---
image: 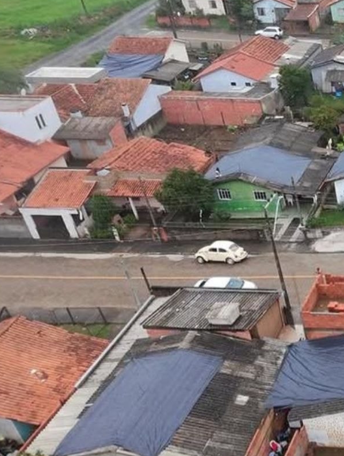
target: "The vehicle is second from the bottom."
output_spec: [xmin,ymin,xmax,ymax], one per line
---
[191,243,249,266]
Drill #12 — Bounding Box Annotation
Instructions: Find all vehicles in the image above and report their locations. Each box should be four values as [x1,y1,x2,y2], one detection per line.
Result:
[191,243,249,266]
[253,24,284,38]
[195,274,257,290]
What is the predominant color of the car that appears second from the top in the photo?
white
